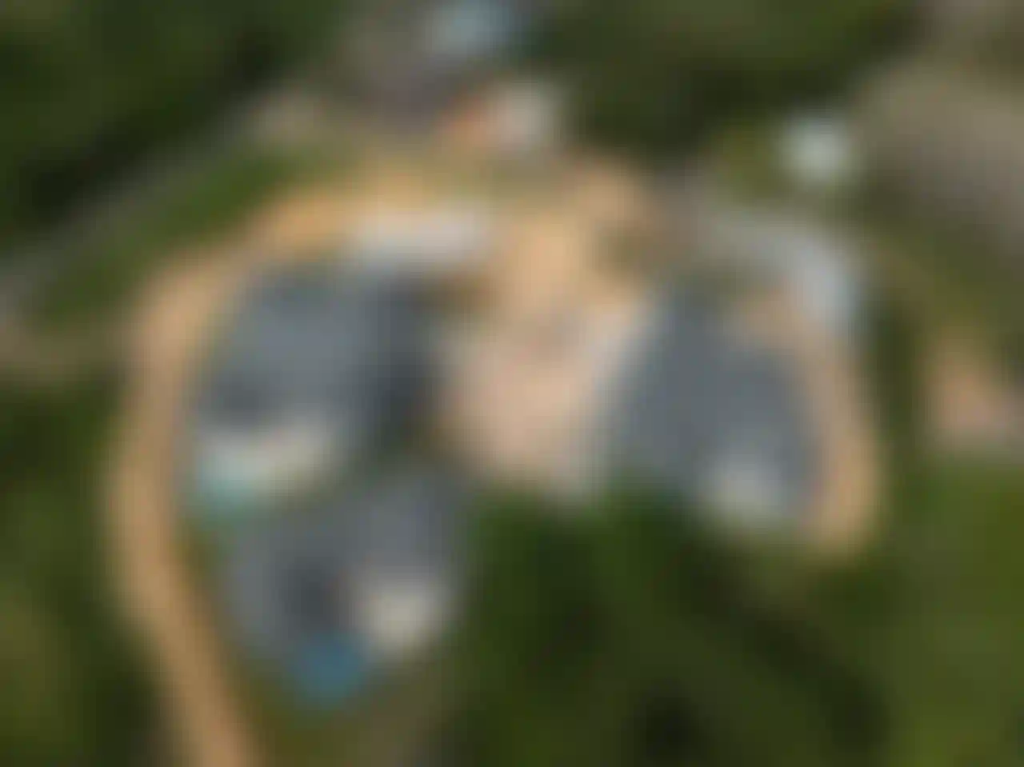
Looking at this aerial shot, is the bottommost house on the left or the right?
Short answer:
left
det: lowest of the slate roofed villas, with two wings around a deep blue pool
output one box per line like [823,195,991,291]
[205,447,480,667]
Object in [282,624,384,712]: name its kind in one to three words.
swimming pool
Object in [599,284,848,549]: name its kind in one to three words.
house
